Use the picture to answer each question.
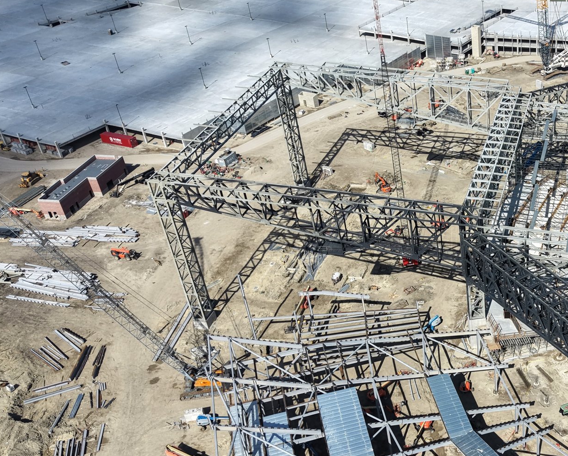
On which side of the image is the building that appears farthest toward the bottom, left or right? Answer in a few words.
left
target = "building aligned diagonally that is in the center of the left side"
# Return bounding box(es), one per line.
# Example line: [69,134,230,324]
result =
[36,153,130,218]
